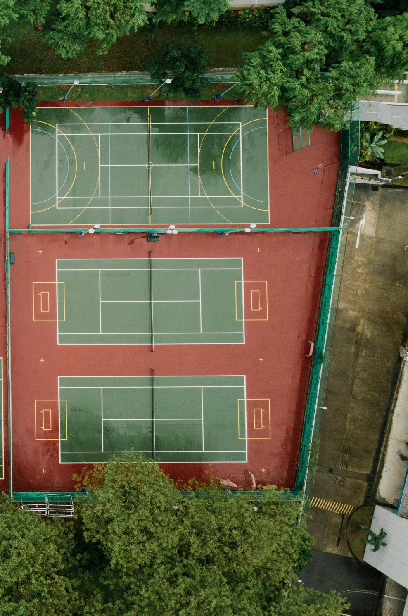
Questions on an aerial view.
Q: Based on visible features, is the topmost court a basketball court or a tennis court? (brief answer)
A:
tennis court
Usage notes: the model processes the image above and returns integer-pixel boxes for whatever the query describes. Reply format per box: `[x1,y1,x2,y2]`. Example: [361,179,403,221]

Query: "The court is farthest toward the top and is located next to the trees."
[30,105,270,225]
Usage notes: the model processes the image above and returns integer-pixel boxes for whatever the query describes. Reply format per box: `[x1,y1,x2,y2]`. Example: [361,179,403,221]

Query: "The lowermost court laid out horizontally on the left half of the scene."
[35,375,271,473]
